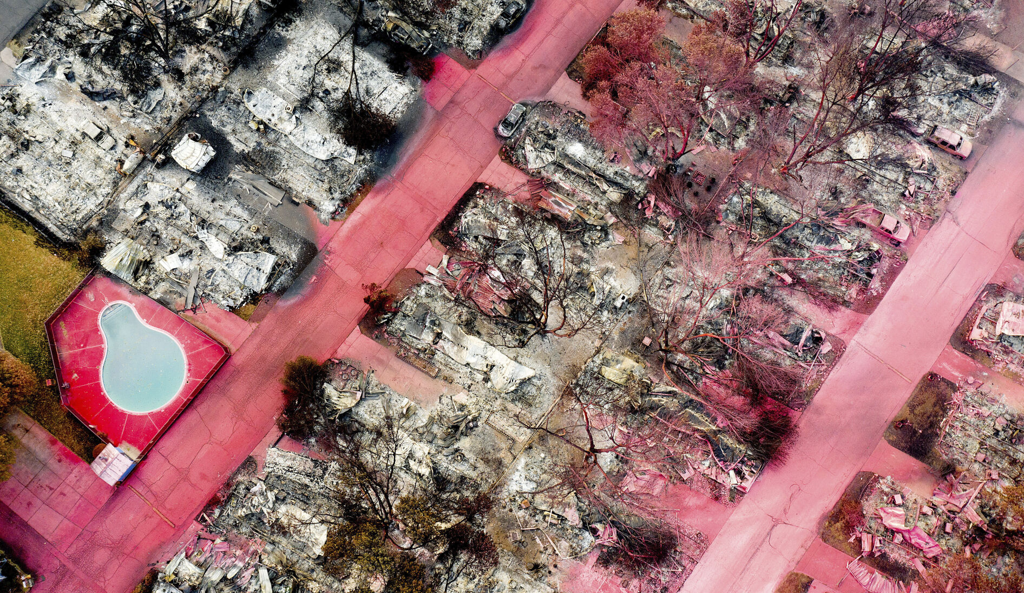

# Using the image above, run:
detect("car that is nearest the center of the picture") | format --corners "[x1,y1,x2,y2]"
[497,100,527,140]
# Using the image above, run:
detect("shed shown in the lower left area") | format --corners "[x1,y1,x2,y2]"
[91,441,145,486]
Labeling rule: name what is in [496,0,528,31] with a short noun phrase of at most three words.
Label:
car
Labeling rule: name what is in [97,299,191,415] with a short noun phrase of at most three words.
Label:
swimming pool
